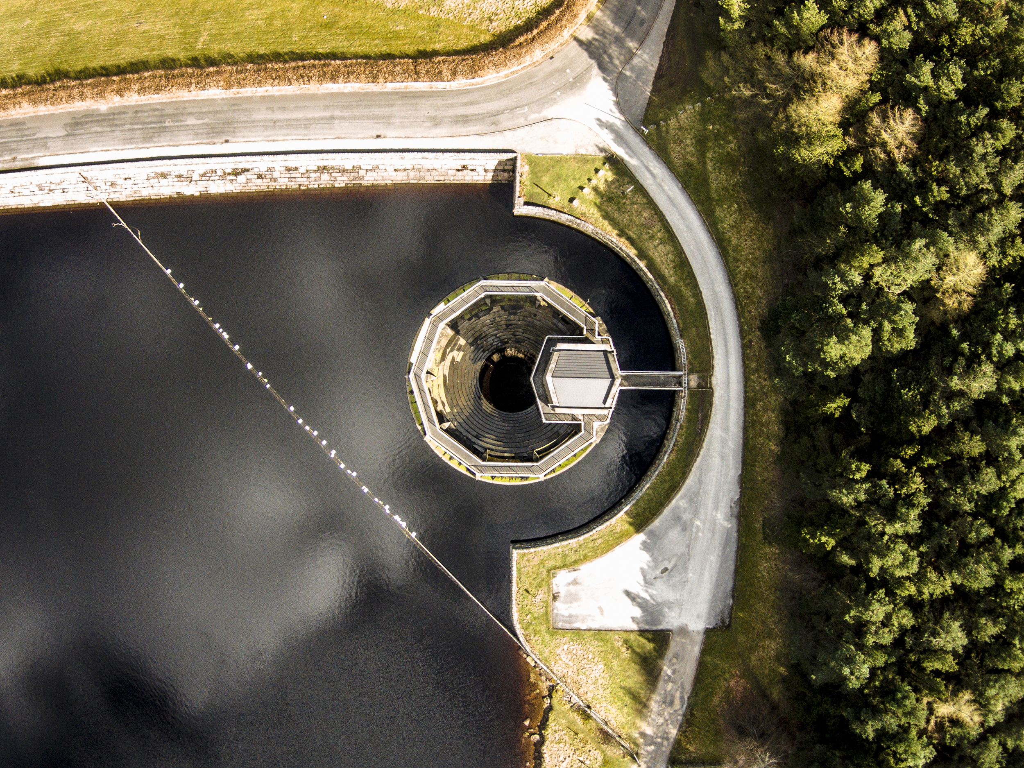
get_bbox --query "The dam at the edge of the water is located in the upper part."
[0,150,518,230]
